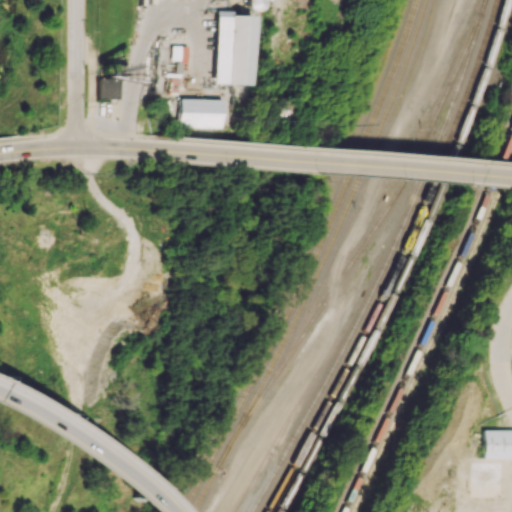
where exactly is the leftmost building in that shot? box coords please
[98,77,122,100]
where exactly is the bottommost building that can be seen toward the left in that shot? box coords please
[180,98,226,130]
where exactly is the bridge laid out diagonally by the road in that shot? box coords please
[0,372,196,512]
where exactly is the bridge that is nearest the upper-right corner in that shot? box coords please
[109,134,512,187]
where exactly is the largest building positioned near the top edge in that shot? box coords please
[218,16,262,86]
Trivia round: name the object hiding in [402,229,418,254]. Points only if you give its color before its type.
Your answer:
yellow rail car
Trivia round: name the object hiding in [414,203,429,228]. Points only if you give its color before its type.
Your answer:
yellow rail car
